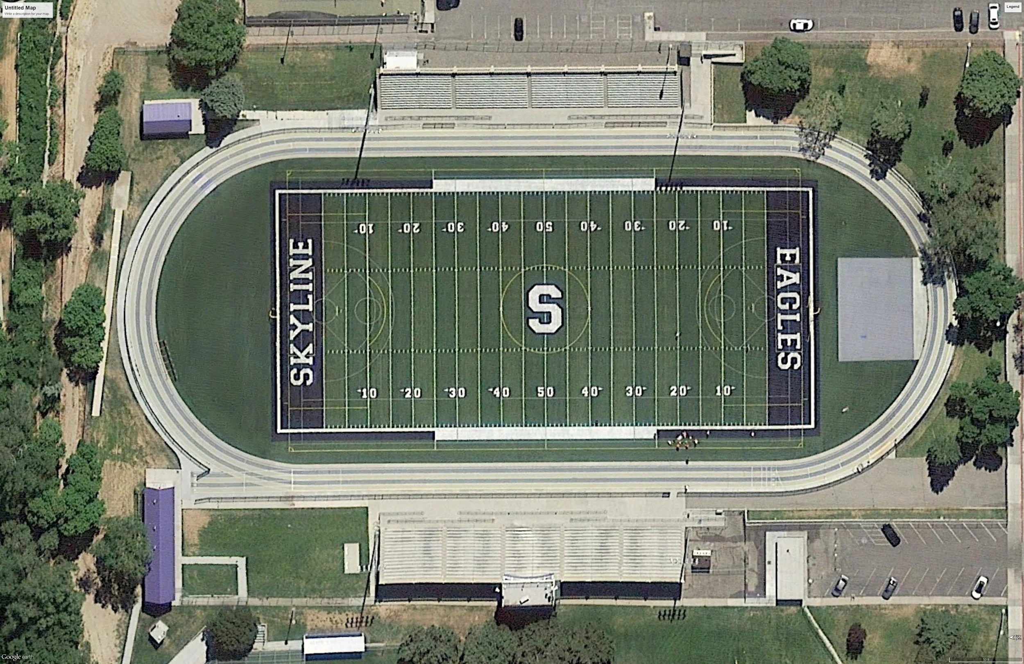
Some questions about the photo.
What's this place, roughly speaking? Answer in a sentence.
The area seen from above is a sports ground.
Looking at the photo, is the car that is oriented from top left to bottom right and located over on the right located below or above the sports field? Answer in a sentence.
The car that is oriented from top left to bottom right and located over on the right is found below the sports field in the photo.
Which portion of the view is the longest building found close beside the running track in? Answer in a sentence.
The longest building found close beside the running track appears toward the bottom left of the photo.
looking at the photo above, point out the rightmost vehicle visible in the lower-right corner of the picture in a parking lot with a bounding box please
[971,577,989,601]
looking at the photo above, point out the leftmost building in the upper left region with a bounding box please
[143,100,192,134]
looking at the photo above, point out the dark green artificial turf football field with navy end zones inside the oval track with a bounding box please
[157,155,919,462]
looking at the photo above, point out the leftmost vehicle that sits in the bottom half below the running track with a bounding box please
[831,575,849,599]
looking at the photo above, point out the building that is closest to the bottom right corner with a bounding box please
[776,533,805,601]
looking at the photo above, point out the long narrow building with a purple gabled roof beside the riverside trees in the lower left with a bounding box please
[143,484,176,605]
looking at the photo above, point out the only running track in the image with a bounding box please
[125,122,959,494]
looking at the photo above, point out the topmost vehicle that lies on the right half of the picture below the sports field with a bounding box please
[881,525,901,549]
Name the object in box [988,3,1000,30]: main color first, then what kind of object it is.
white vehicle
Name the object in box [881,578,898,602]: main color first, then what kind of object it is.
gray car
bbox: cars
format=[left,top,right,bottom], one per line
[881,578,898,602]
[969,9,980,35]
[988,3,1000,30]
[831,575,849,599]
[513,17,524,42]
[436,0,460,8]
[790,20,813,33]
[971,577,989,601]
[953,7,964,33]
[881,525,901,549]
